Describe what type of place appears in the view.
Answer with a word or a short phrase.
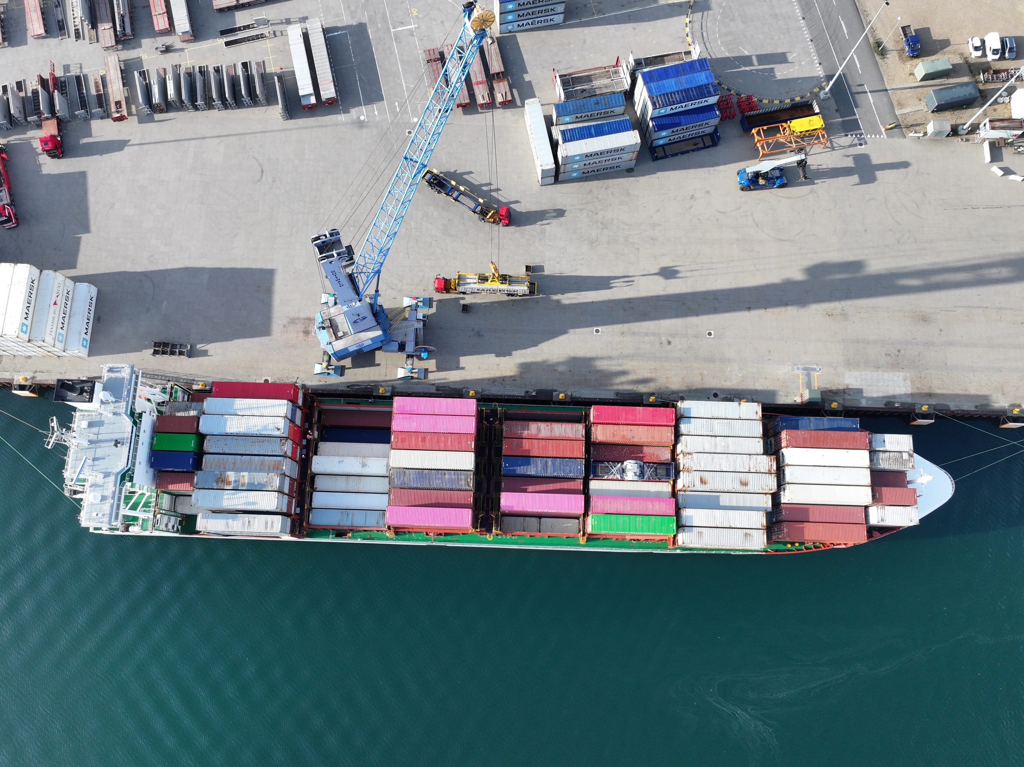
port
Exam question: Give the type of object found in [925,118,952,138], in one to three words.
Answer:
shed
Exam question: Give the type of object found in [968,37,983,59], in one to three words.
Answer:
car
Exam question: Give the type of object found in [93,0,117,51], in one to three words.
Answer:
trailer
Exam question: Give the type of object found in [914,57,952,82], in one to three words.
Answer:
shed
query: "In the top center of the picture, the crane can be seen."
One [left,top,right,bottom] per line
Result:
[312,2,505,381]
